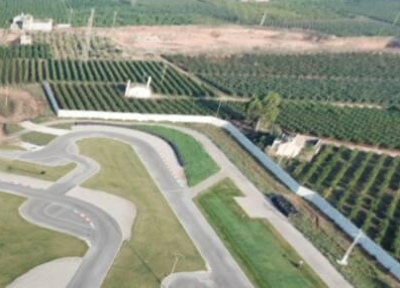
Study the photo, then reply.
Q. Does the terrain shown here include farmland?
Yes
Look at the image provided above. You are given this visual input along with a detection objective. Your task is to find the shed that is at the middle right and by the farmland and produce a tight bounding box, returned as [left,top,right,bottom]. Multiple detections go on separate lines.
[271,124,322,158]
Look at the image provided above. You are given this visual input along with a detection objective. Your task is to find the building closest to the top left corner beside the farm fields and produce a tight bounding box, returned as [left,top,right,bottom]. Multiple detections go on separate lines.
[12,13,30,31]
